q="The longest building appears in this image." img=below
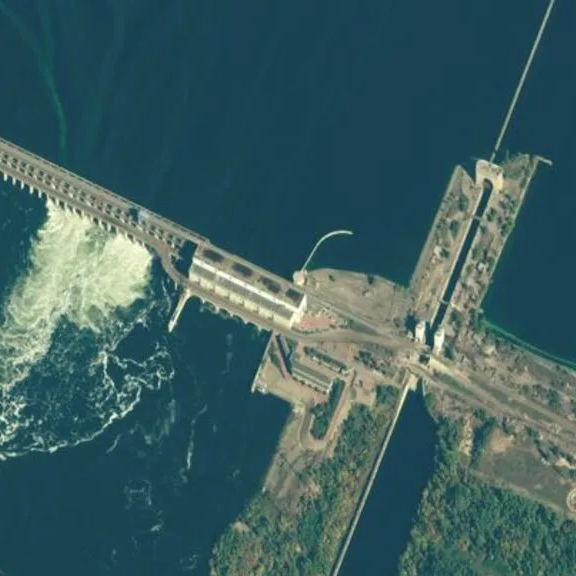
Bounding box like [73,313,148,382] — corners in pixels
[180,240,316,343]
